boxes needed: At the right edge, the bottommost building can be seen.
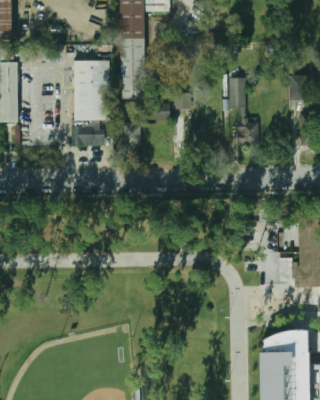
[260,330,320,400]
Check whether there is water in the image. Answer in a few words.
No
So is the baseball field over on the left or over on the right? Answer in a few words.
left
